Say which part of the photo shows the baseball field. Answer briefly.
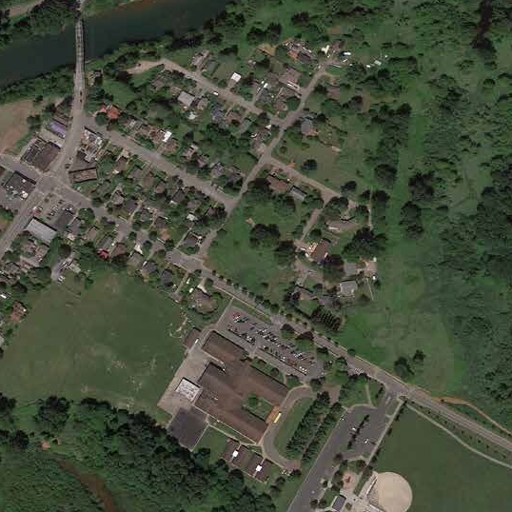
bottom right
